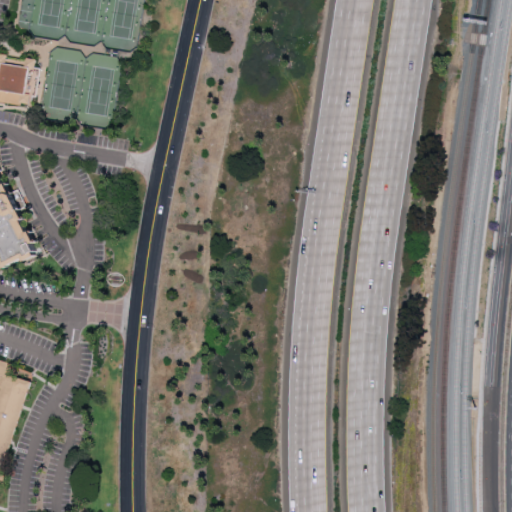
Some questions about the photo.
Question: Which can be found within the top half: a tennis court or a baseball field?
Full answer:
Looking within the top half, you will find a tennis court.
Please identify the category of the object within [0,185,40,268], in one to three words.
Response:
building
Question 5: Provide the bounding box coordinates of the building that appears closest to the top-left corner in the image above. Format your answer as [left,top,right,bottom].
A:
[0,55,39,104]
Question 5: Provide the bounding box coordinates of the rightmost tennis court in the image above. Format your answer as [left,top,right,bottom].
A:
[102,0,144,51]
